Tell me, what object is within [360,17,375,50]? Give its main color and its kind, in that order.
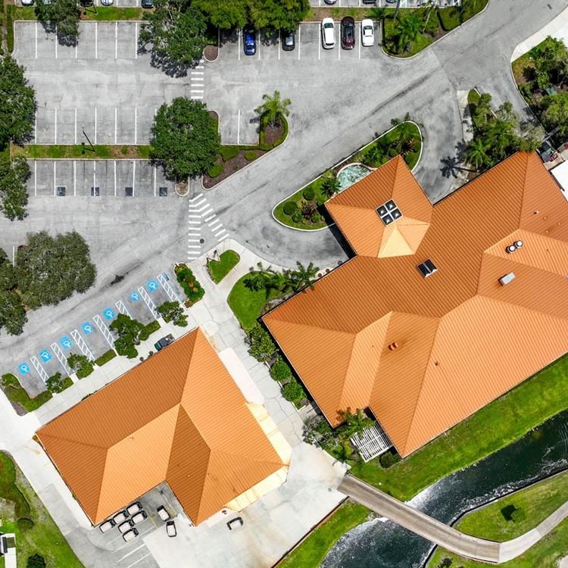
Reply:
white car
